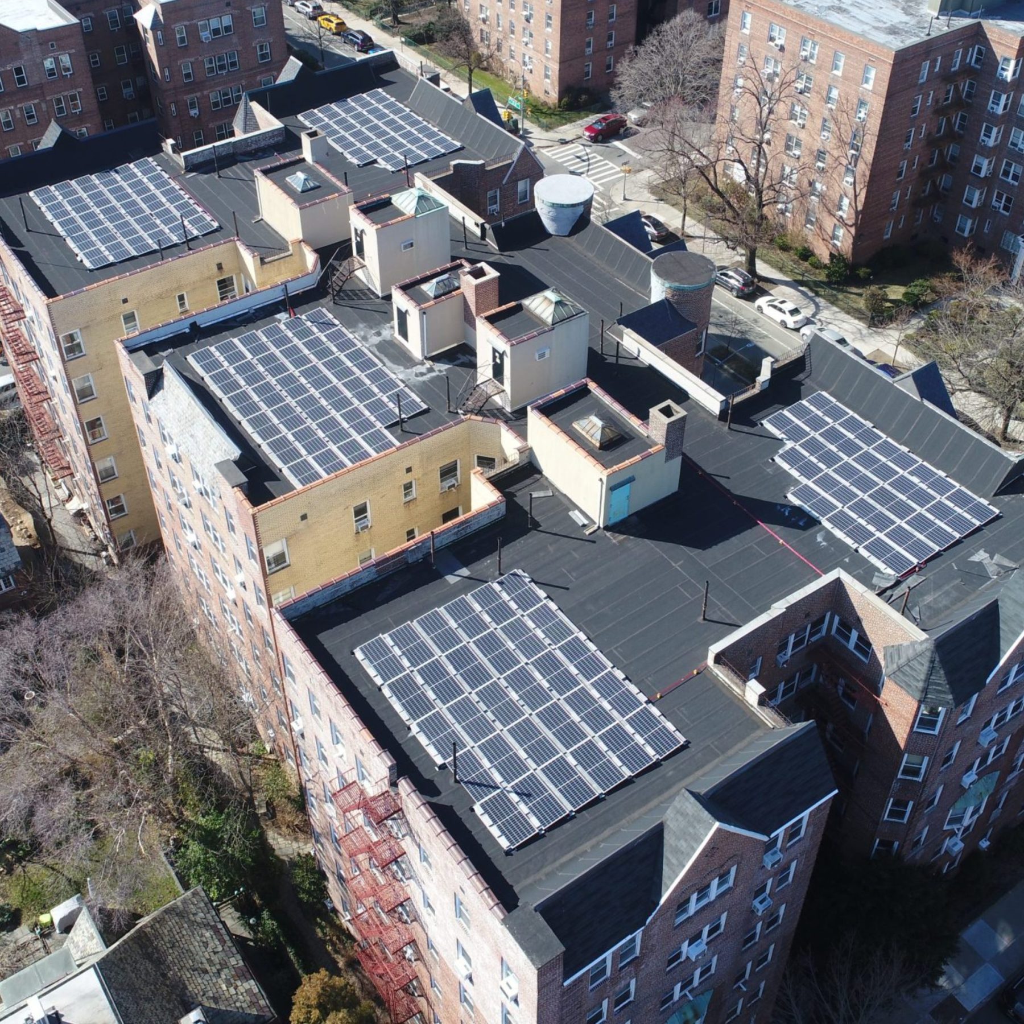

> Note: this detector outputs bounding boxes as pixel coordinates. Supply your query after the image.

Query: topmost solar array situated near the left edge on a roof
[26,163,213,275]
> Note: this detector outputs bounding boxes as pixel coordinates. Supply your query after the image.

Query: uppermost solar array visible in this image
[297,94,462,174]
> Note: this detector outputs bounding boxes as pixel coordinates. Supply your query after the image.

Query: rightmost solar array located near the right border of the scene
[758,394,1003,584]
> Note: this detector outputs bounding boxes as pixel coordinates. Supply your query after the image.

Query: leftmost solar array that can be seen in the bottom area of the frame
[349,568,688,861]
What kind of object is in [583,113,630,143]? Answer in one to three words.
car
